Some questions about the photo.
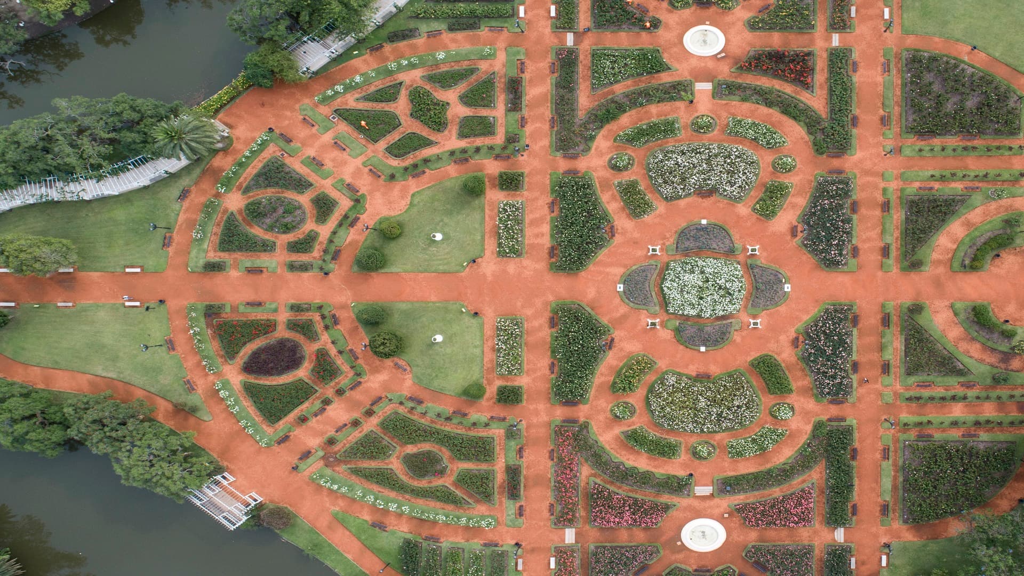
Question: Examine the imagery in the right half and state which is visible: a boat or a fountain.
fountain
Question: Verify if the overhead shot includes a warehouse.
No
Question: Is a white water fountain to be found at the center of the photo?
No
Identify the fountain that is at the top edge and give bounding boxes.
[683,24,725,56]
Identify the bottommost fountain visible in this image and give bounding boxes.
[681,518,727,552]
